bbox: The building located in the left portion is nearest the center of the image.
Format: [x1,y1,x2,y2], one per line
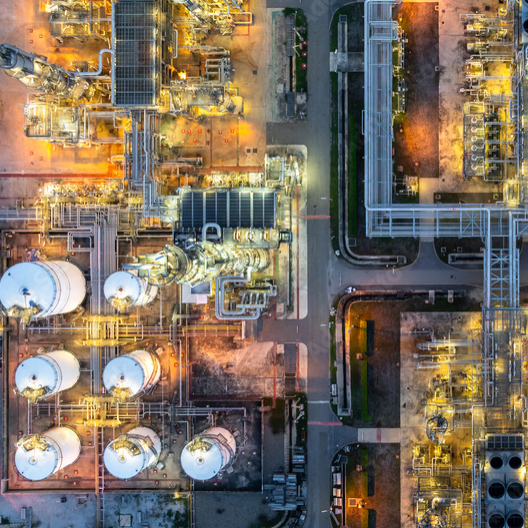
[183,283,216,305]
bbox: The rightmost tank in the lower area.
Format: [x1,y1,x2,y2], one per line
[180,418,239,480]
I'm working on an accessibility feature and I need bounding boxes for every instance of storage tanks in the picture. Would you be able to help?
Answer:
[103,270,162,313]
[14,426,83,481]
[0,259,87,322]
[14,347,83,402]
[102,416,167,479]
[180,418,239,480]
[102,347,166,402]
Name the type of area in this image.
industrial area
